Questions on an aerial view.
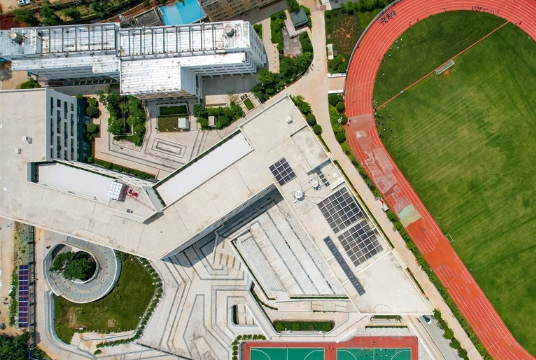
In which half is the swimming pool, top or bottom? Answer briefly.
top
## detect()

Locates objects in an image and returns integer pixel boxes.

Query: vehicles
[17,0,29,5]
[422,314,432,326]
